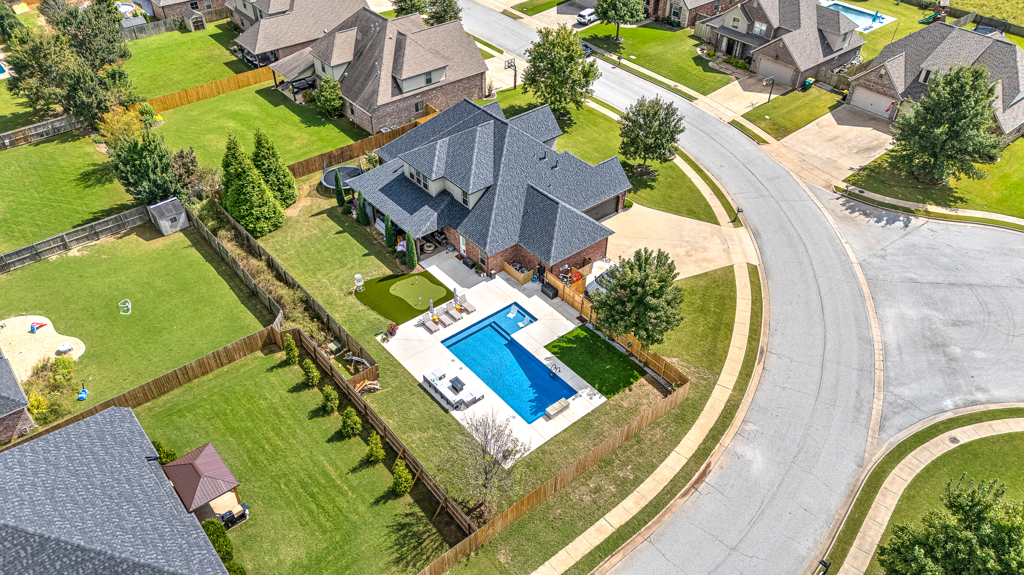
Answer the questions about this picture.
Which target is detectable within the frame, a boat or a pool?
pool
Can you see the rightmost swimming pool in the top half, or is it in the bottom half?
top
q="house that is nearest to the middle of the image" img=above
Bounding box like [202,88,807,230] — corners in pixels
[343,98,632,280]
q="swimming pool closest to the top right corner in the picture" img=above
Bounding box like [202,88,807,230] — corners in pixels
[827,0,885,26]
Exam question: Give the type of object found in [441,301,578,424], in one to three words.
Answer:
swimming pool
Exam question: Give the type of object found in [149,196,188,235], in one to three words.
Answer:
shed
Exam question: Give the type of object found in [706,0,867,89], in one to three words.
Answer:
house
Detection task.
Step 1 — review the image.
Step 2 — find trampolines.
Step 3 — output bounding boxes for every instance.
[978,10,1020,37]
[312,148,356,189]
